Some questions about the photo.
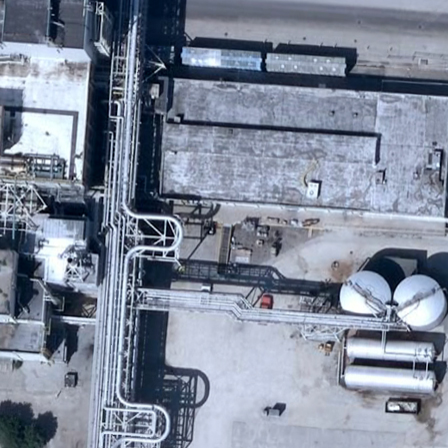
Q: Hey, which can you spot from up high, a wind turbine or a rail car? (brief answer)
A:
rail car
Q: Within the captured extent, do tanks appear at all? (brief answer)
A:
Yes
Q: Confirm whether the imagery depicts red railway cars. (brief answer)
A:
No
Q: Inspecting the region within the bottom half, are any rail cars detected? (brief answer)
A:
No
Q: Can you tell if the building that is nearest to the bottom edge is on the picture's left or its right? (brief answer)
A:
left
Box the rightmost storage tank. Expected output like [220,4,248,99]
[395,278,446,333]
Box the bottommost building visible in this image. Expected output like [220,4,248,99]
[0,319,53,362]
